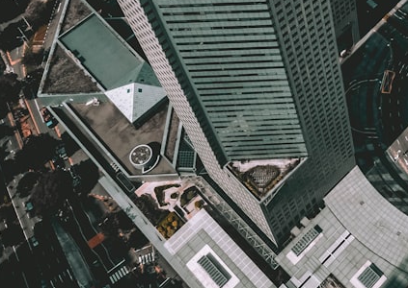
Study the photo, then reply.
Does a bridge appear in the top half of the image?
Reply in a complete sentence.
No, I see no bridge in the top half of the image.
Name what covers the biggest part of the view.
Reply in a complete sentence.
For the most part, this view shows buildings.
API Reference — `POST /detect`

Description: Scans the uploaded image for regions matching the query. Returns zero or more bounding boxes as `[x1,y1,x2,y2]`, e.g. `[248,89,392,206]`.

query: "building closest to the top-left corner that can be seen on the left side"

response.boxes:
[37,0,202,198]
